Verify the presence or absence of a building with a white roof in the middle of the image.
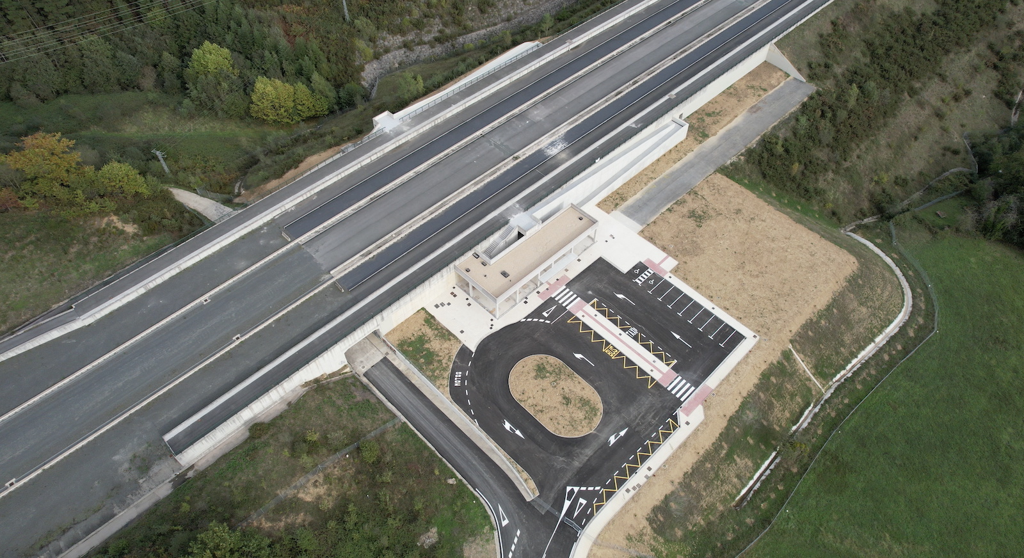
Yes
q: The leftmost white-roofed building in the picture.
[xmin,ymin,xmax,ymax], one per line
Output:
[455,202,600,320]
